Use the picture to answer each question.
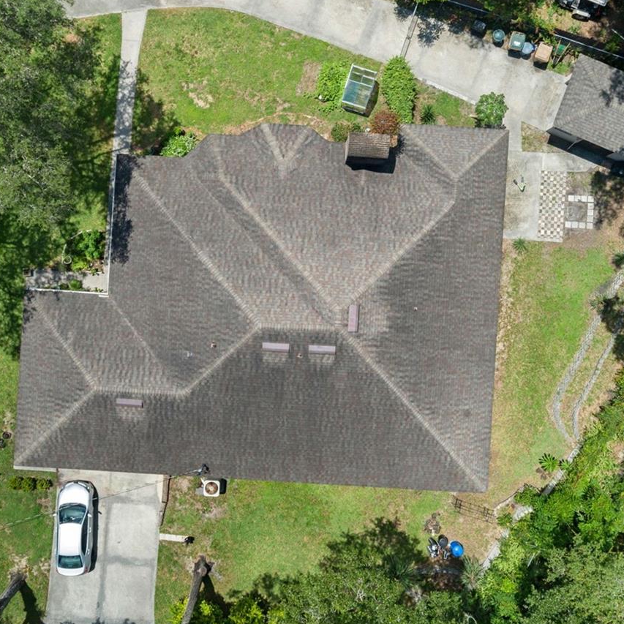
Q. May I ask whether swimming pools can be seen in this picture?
No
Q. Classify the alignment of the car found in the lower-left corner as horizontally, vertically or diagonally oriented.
vertically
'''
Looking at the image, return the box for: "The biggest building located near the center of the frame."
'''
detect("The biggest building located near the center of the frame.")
[14,122,509,494]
